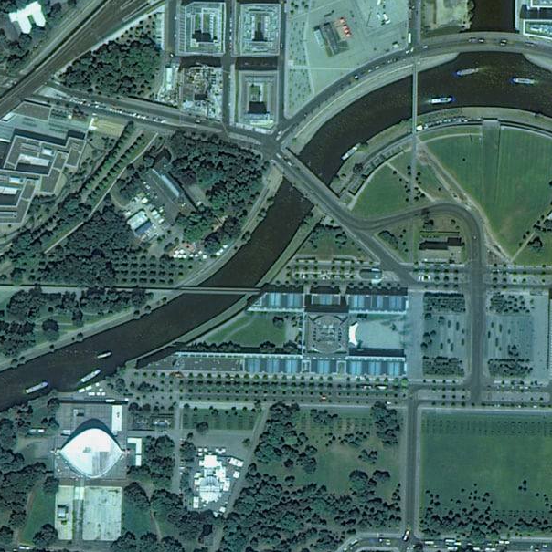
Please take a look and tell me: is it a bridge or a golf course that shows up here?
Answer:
bridge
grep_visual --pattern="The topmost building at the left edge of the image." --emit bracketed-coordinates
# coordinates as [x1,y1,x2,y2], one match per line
[9,1,46,33]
